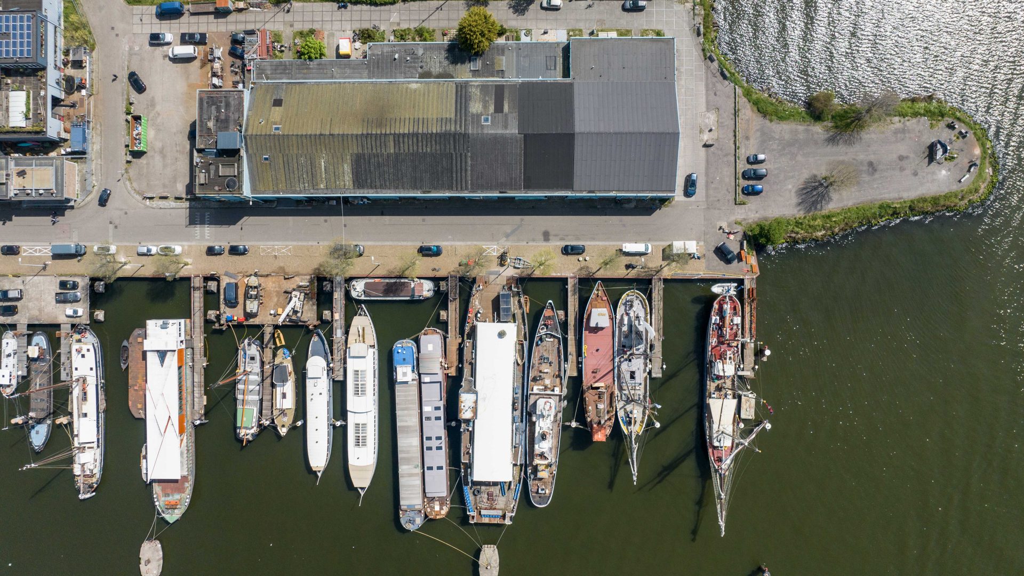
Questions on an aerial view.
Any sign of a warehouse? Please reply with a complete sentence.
Yes, this view includes a warehouse.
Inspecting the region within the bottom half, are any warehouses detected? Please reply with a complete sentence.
No, no warehouse is visible within the bottom half.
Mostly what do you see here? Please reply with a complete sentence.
For the most part, this view shows water.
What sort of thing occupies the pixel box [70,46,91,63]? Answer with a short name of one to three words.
shed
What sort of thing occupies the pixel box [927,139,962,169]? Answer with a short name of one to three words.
shed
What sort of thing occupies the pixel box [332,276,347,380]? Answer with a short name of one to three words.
pier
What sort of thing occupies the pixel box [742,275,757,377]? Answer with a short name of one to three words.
pier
